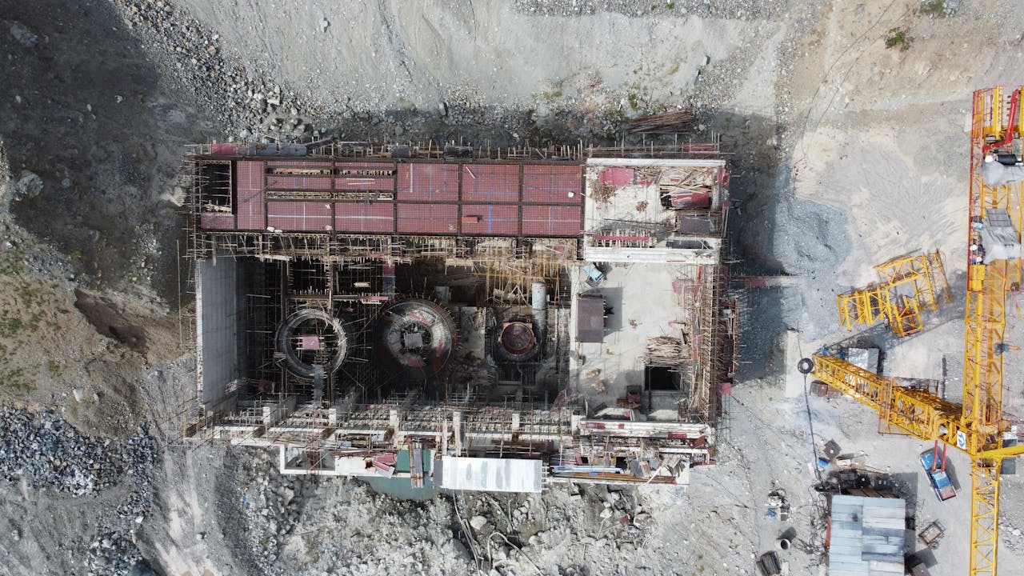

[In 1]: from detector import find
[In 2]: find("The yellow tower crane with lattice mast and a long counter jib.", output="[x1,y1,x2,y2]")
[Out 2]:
[807,82,1024,576]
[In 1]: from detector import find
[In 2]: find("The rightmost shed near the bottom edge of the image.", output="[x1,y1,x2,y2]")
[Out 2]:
[824,487,907,576]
